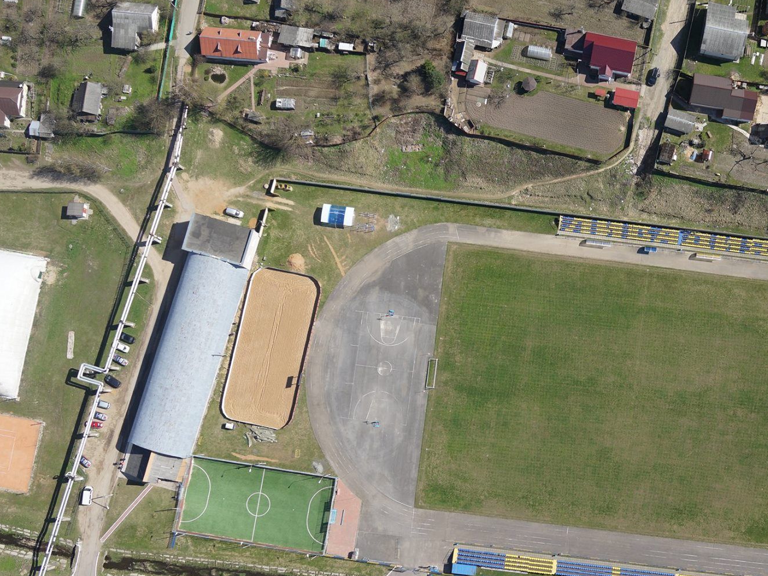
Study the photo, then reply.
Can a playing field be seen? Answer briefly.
Yes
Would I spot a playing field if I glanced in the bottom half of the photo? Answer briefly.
Yes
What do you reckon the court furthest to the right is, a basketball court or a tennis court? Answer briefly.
basketball court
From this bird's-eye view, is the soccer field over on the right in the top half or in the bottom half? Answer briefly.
bottom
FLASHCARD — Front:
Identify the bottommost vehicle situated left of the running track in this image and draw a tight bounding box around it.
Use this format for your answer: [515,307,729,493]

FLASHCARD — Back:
[80,484,93,508]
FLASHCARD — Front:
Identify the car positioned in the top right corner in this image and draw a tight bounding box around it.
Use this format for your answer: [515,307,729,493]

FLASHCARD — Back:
[646,66,659,87]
